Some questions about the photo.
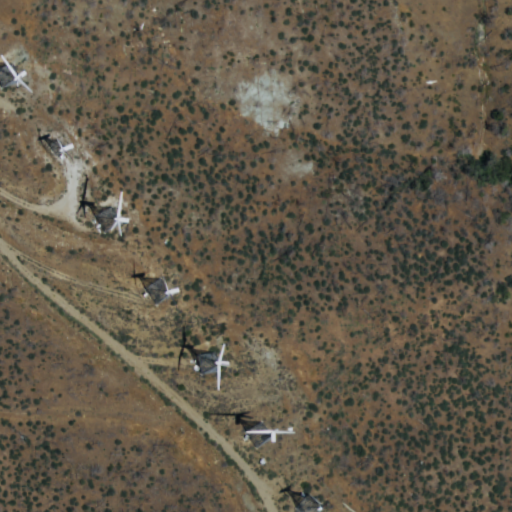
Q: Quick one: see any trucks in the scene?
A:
No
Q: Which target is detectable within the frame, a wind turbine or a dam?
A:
wind turbine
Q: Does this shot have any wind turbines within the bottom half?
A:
Yes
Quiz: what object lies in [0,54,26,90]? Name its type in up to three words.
wind turbine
